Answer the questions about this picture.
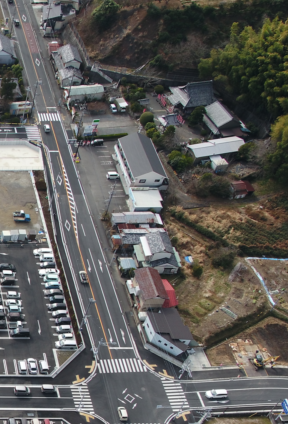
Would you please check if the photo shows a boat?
No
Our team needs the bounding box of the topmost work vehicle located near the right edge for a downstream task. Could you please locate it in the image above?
[246,352,277,369]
